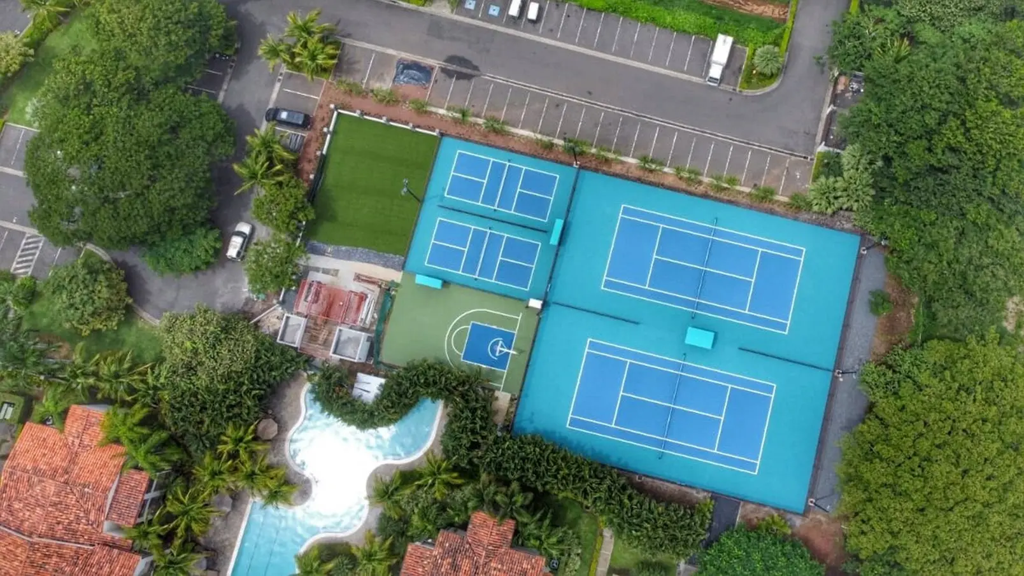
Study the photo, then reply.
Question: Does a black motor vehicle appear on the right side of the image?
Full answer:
No, there's no black motor vehicle to be seen on the right side of the image.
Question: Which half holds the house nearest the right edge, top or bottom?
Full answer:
Seen from above, the house nearest the right edge lies in the bottom half of the view.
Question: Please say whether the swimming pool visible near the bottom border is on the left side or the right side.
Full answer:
The swimming pool visible near the bottom border sits on the left side.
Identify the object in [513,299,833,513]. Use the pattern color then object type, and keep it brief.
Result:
blue tennis court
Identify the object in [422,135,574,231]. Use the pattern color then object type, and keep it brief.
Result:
blue sports court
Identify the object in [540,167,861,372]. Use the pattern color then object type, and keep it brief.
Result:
blue tennis court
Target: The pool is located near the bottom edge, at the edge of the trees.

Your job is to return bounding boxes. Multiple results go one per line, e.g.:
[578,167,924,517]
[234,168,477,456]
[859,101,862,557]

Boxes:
[226,377,442,576]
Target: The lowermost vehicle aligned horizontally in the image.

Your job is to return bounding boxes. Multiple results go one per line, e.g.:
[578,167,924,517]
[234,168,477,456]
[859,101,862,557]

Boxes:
[270,109,308,129]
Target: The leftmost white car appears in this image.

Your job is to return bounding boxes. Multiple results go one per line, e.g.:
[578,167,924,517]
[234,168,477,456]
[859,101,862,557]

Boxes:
[226,223,253,260]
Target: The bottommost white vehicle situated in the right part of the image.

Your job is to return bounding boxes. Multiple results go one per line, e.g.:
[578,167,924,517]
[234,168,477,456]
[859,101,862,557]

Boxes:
[705,28,736,87]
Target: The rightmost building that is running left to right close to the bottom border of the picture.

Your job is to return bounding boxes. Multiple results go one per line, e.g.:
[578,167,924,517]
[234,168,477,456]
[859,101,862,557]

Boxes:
[399,507,545,576]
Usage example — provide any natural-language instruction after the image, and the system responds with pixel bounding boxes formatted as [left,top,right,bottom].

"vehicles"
[705,28,736,87]
[509,0,522,21]
[226,223,253,260]
[528,2,541,25]
[270,109,308,129]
